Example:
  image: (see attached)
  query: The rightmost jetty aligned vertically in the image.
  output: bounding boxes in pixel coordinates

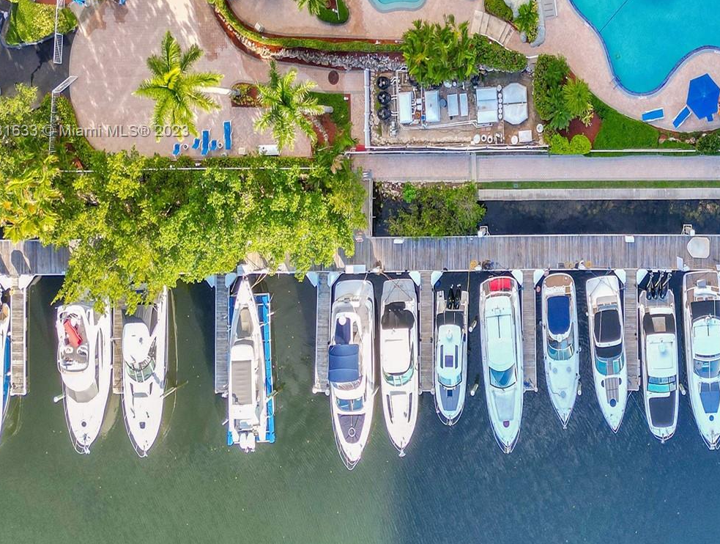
[623,276,640,393]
